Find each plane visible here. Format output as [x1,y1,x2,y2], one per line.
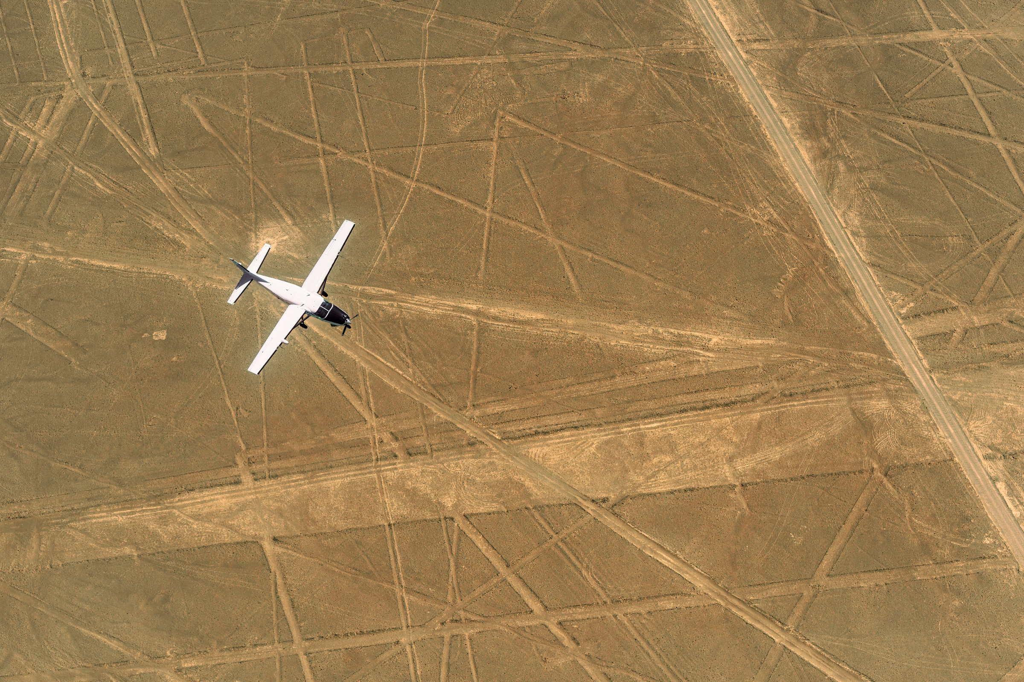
[228,220,358,376]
